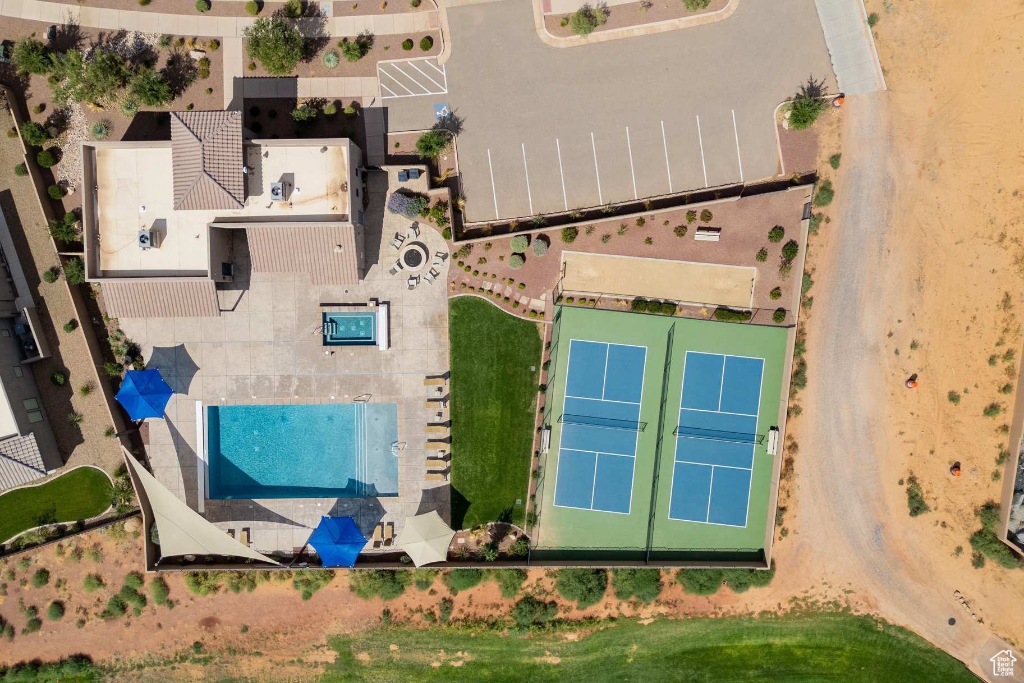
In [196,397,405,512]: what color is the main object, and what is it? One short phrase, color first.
blue swimming pool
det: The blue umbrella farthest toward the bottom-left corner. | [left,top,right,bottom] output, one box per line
[115,367,174,422]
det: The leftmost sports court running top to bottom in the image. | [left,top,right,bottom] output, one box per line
[529,305,675,562]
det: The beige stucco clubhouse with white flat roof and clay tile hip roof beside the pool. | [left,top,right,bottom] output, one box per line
[81,109,367,318]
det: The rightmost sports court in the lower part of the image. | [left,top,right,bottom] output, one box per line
[649,317,787,562]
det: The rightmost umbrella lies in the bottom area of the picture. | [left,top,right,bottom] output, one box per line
[396,509,457,569]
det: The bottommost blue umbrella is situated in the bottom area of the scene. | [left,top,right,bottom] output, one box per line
[308,515,369,568]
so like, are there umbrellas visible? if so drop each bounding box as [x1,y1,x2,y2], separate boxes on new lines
[115,367,174,422]
[308,515,369,568]
[396,509,457,569]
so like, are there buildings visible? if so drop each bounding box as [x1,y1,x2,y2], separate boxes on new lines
[0,244,63,490]
[81,109,367,318]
